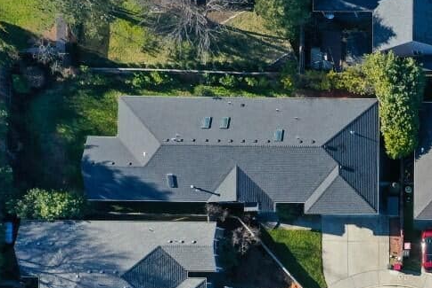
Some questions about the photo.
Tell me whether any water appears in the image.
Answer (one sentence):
No, the scene doesn't show any water.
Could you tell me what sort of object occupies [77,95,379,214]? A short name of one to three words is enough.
house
